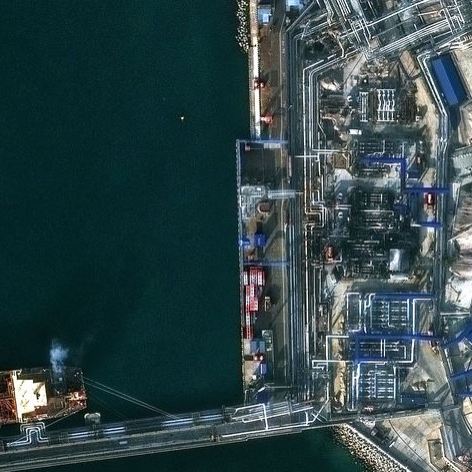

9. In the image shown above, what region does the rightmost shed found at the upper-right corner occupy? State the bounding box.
[431,53,470,113]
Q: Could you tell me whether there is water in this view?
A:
Yes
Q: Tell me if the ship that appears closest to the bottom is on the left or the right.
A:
left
